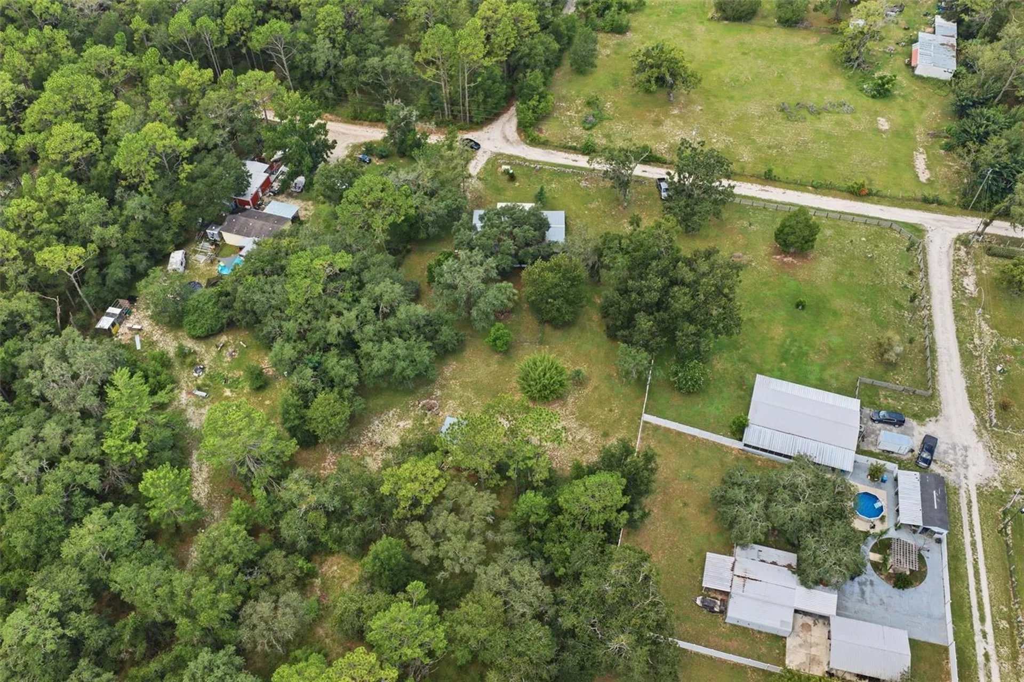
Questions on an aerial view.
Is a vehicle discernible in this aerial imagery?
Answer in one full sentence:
Yes, looking at the shot, I can spot a vehicle.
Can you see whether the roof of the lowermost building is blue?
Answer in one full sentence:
No, the color of the roof of the lowermost building is white.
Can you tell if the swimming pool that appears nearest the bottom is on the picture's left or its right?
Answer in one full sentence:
The swimming pool that appears nearest the bottom is on the right side of the image.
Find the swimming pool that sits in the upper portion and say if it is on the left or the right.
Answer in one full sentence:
The swimming pool that sits in the upper portion is on the left side of the image.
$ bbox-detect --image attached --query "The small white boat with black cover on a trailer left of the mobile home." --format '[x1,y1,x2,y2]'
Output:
[693,593,732,611]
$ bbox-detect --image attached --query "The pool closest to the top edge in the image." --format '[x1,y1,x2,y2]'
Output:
[216,247,246,274]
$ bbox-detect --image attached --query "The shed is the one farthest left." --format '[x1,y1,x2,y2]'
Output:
[96,295,136,344]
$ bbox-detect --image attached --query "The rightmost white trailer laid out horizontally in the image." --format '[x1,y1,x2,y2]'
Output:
[878,426,922,452]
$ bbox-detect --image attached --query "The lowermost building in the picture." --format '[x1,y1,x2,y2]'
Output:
[824,616,916,682]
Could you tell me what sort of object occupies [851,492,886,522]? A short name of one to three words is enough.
swimming pool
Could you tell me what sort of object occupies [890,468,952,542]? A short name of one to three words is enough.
building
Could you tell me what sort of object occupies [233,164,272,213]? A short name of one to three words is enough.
barn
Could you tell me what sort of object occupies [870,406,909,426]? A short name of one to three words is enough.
car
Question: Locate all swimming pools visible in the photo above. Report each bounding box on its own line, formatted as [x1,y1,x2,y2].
[216,247,246,274]
[851,492,886,522]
